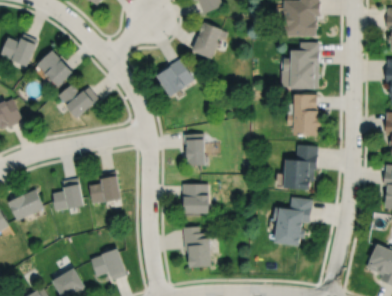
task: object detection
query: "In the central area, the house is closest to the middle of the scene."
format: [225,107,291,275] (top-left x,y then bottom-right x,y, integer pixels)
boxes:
[184,132,206,166]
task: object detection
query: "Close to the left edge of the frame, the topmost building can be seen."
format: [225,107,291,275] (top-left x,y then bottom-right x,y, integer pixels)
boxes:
[0,31,38,68]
